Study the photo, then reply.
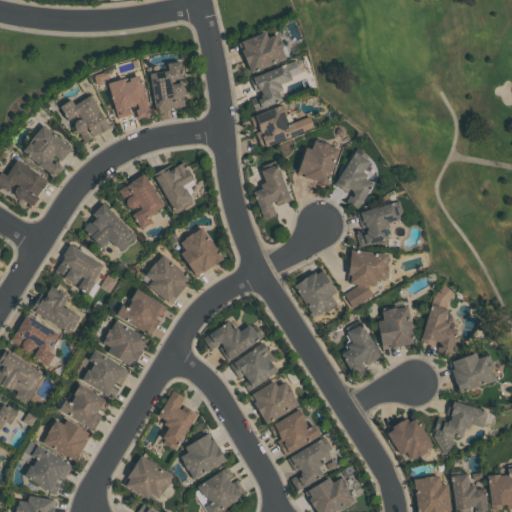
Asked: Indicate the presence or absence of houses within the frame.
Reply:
Yes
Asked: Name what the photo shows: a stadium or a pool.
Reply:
pool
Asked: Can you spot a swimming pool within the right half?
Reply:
Yes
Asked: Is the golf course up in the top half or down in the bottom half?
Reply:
top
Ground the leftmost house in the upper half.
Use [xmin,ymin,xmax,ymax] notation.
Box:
[0,160,46,206]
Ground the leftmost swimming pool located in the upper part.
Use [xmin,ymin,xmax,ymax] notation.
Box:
[13,130,29,148]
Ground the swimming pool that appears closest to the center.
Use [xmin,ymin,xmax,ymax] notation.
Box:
[186,215,212,230]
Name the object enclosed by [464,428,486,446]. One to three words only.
swimming pool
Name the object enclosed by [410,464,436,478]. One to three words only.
swimming pool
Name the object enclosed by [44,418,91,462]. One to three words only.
house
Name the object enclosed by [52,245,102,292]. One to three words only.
house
